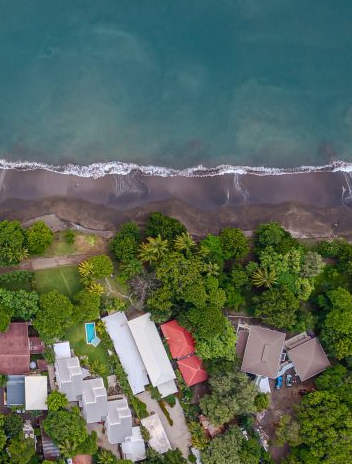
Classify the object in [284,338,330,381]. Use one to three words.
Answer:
house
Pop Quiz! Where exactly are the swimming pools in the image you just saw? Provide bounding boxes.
[85,323,101,347]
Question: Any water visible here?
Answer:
Yes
